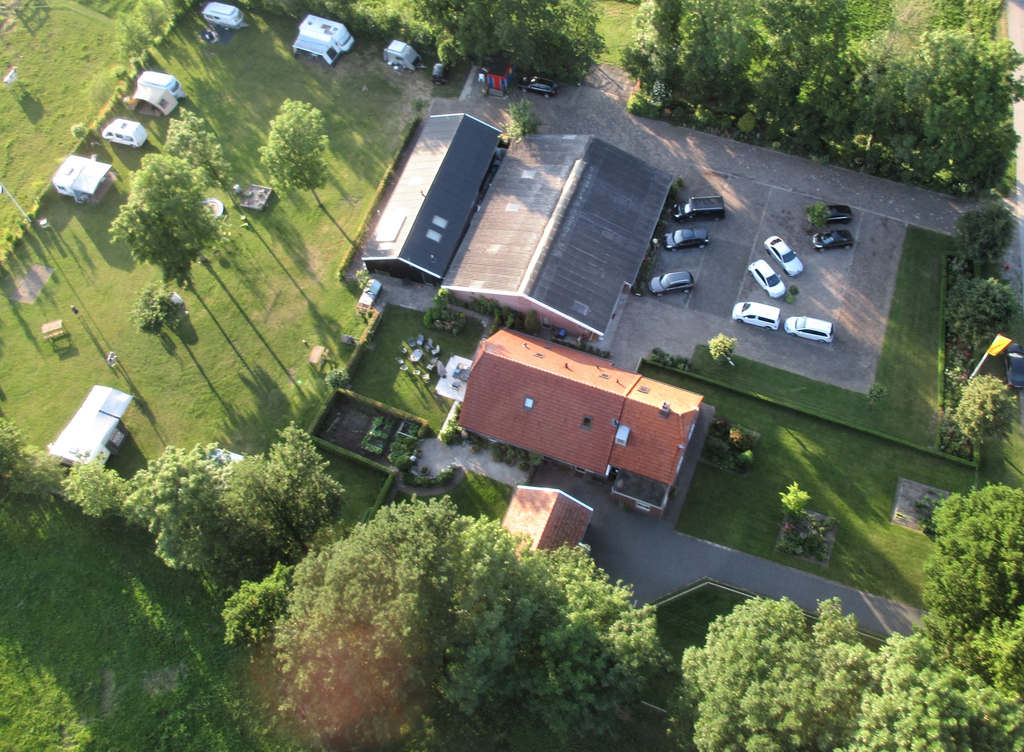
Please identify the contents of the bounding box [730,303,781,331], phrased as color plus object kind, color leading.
white vehicle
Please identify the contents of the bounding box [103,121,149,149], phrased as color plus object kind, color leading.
white van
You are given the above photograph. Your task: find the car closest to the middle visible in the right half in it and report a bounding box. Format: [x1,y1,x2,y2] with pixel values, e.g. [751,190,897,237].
[648,272,695,297]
